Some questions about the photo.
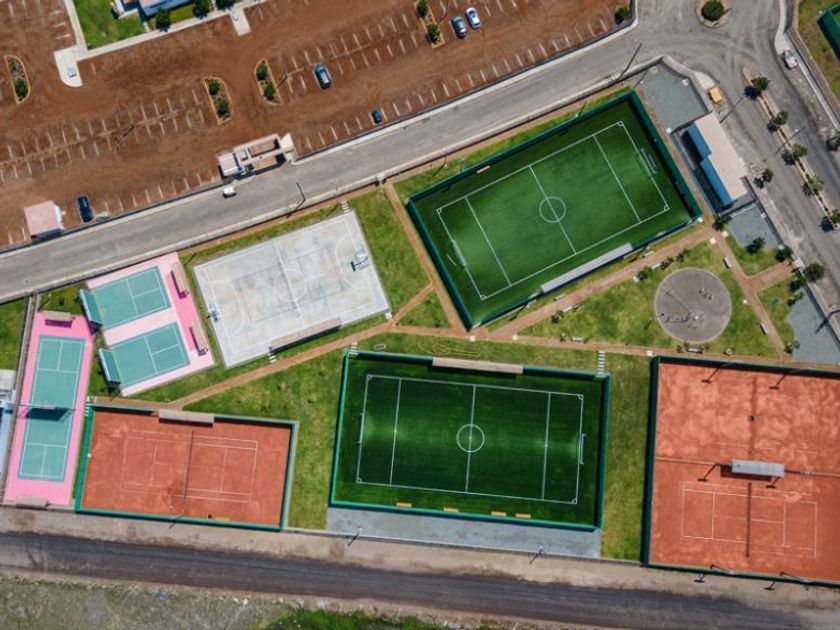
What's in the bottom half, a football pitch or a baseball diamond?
football pitch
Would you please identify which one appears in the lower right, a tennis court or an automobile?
tennis court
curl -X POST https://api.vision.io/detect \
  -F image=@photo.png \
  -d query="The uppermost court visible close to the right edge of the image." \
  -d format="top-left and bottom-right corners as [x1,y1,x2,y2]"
[660,364,840,475]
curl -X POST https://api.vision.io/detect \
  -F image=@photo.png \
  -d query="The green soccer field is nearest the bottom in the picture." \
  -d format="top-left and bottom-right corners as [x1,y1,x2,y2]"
[335,354,605,526]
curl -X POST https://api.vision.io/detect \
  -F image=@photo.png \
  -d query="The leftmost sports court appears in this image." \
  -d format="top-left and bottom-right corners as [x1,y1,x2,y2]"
[2,313,94,508]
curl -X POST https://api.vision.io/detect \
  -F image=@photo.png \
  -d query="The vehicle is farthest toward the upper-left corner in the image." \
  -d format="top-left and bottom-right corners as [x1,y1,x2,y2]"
[74,195,92,224]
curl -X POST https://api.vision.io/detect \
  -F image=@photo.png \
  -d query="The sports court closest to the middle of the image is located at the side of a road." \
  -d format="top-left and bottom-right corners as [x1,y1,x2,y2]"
[194,210,390,367]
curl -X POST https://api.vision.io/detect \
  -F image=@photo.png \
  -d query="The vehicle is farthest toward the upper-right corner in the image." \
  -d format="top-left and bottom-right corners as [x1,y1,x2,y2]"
[781,49,798,71]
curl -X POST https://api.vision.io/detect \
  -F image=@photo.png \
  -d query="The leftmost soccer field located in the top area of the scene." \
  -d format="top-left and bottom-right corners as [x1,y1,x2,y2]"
[413,98,694,326]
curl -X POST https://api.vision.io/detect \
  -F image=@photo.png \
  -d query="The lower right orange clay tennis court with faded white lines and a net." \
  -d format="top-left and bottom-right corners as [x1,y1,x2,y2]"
[655,459,840,582]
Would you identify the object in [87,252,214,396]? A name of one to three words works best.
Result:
sports court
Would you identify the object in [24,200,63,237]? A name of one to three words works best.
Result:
building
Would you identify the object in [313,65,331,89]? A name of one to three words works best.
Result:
car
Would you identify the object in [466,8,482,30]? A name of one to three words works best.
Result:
car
